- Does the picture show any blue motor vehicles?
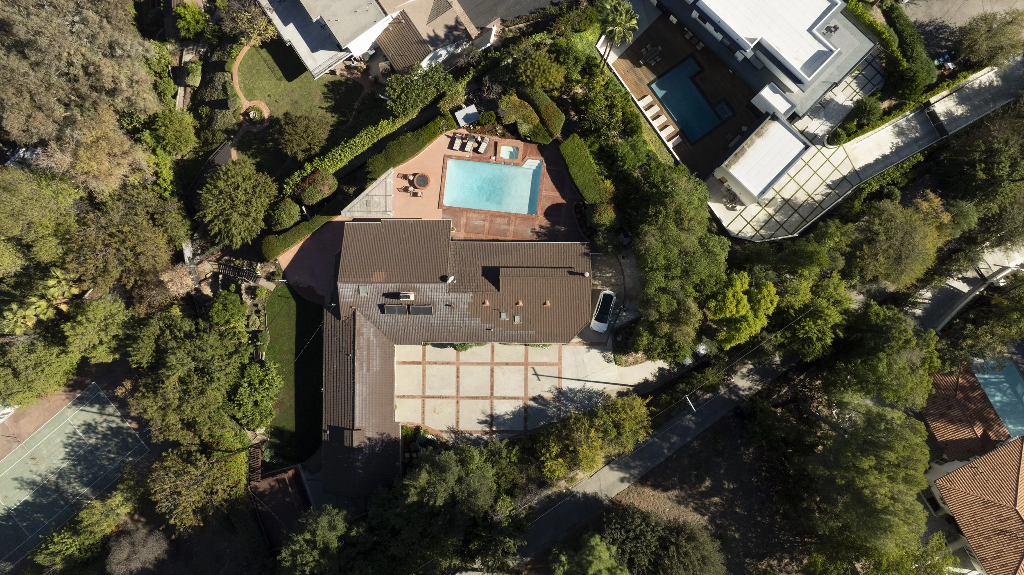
No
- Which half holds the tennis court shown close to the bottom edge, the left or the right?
left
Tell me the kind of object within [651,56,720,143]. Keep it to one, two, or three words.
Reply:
swimming pool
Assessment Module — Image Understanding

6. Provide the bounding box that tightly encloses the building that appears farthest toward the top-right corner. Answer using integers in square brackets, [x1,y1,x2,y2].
[658,0,879,203]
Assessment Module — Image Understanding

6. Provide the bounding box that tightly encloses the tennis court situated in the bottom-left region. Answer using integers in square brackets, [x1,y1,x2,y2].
[0,383,149,575]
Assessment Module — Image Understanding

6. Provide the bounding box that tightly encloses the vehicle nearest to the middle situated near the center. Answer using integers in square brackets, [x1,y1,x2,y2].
[588,287,619,335]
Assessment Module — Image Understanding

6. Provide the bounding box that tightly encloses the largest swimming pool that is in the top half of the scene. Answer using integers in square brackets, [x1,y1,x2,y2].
[443,157,542,214]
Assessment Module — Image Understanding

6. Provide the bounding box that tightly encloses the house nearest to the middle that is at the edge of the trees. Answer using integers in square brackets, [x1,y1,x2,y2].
[321,219,592,497]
